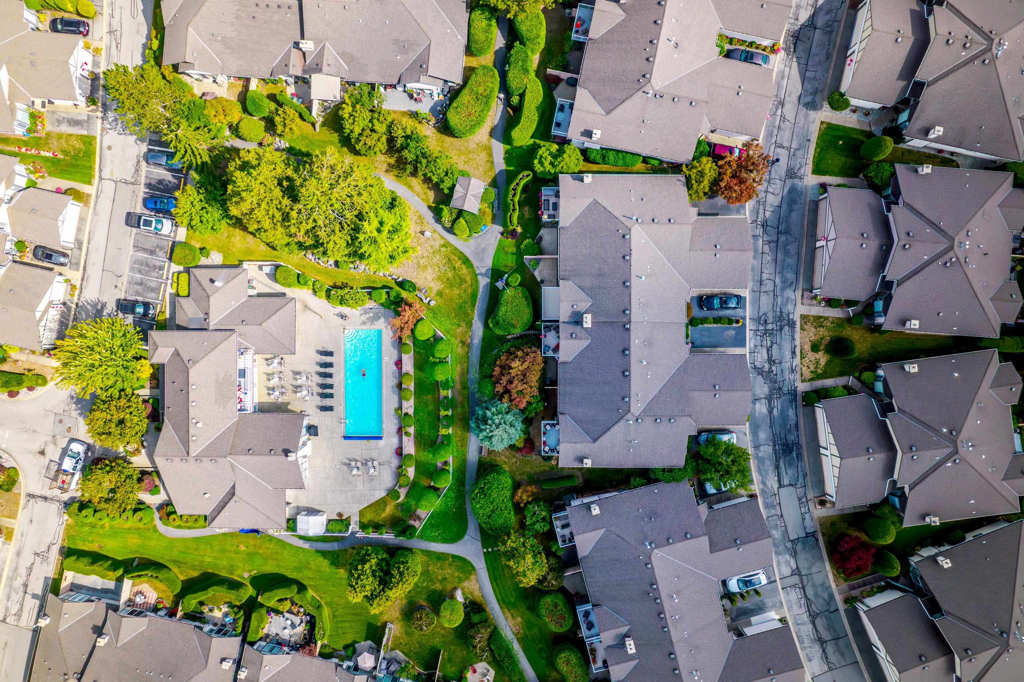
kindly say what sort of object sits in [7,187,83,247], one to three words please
house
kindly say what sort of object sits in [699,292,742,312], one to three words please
car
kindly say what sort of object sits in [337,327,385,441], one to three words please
swimming pool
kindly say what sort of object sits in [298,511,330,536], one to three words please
shed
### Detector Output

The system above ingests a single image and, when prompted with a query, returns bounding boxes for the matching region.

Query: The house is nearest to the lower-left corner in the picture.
[28,588,120,682]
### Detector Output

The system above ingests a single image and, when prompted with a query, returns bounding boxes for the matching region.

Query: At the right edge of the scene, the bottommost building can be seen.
[857,517,1024,682]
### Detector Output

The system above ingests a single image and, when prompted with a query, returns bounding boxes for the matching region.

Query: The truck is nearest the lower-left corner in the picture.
[46,435,92,499]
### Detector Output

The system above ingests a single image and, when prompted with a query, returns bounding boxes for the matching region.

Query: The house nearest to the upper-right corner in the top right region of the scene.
[841,0,1024,164]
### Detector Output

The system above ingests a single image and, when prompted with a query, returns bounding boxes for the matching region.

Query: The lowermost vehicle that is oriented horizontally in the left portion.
[117,298,159,318]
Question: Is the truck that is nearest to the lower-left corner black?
No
